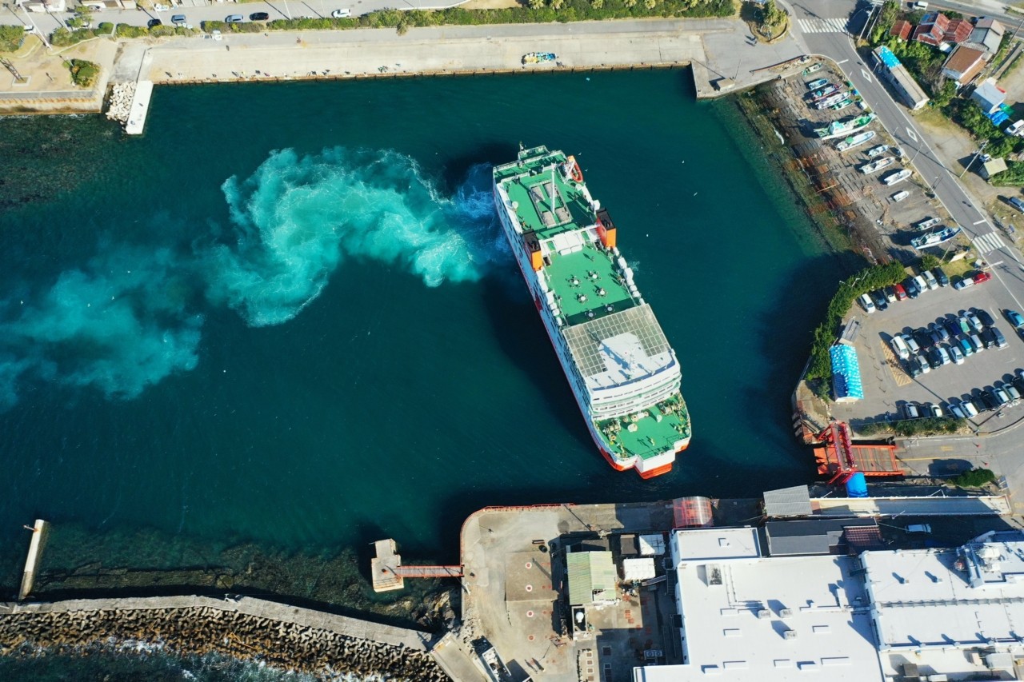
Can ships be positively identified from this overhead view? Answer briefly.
Yes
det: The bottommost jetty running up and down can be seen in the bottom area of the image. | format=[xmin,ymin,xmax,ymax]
[19,520,52,600]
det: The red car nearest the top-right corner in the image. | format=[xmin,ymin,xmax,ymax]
[973,271,994,285]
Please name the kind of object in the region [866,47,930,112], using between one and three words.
building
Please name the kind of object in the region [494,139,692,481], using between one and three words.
ship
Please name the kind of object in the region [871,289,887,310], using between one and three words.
car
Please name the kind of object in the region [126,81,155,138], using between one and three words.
pier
